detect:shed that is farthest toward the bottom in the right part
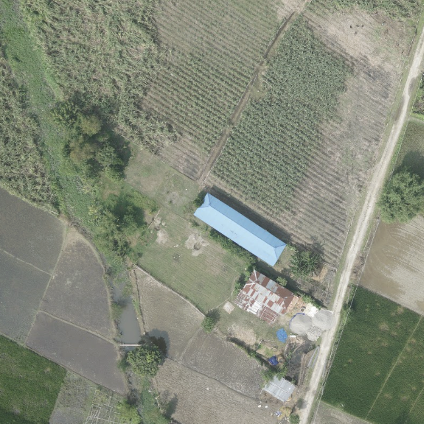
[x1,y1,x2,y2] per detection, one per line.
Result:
[263,375,295,401]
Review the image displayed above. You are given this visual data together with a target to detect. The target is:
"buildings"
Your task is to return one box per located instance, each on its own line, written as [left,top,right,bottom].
[234,271,293,324]
[263,375,295,401]
[194,193,285,266]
